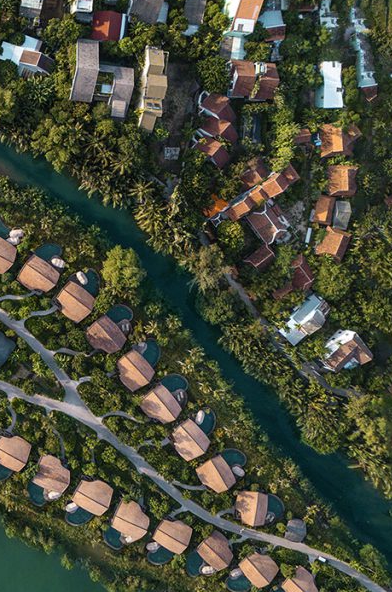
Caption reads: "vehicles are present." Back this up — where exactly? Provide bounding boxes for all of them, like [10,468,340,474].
[305,227,314,241]
[316,554,328,563]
